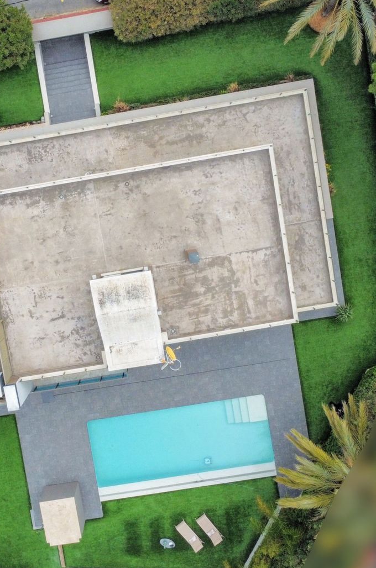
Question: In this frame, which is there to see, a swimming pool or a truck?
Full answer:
The one in the frame is a swimming pool.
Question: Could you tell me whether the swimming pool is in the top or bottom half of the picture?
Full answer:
It is in the bottom half that the swimming pool appears.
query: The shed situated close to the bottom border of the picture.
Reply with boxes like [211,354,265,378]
[40,482,86,546]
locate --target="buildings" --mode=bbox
[0,80,338,411]
[40,482,86,546]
